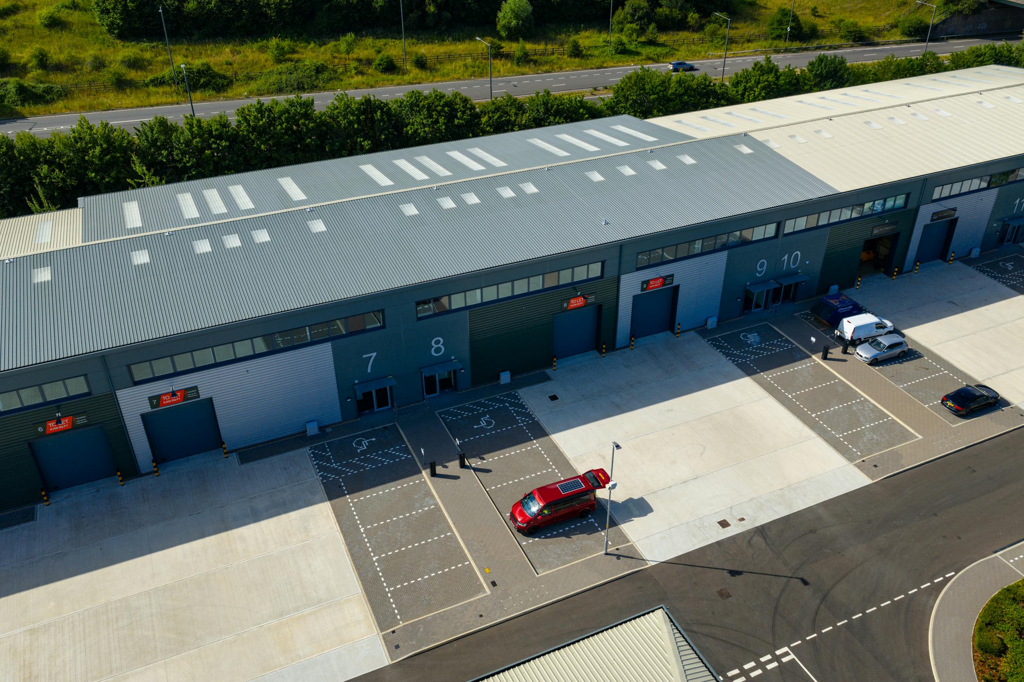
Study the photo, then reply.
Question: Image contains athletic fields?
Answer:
No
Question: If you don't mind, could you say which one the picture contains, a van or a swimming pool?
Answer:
van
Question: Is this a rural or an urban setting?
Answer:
urban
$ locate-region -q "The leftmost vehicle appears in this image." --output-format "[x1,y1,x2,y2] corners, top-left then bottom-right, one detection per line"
[506,465,611,538]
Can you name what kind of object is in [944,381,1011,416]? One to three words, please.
car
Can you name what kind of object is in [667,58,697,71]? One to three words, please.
vehicle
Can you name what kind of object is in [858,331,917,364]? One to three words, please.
car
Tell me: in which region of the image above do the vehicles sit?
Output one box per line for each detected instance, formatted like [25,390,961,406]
[667,58,697,71]
[858,331,917,364]
[837,311,897,345]
[506,465,611,538]
[944,381,1011,416]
